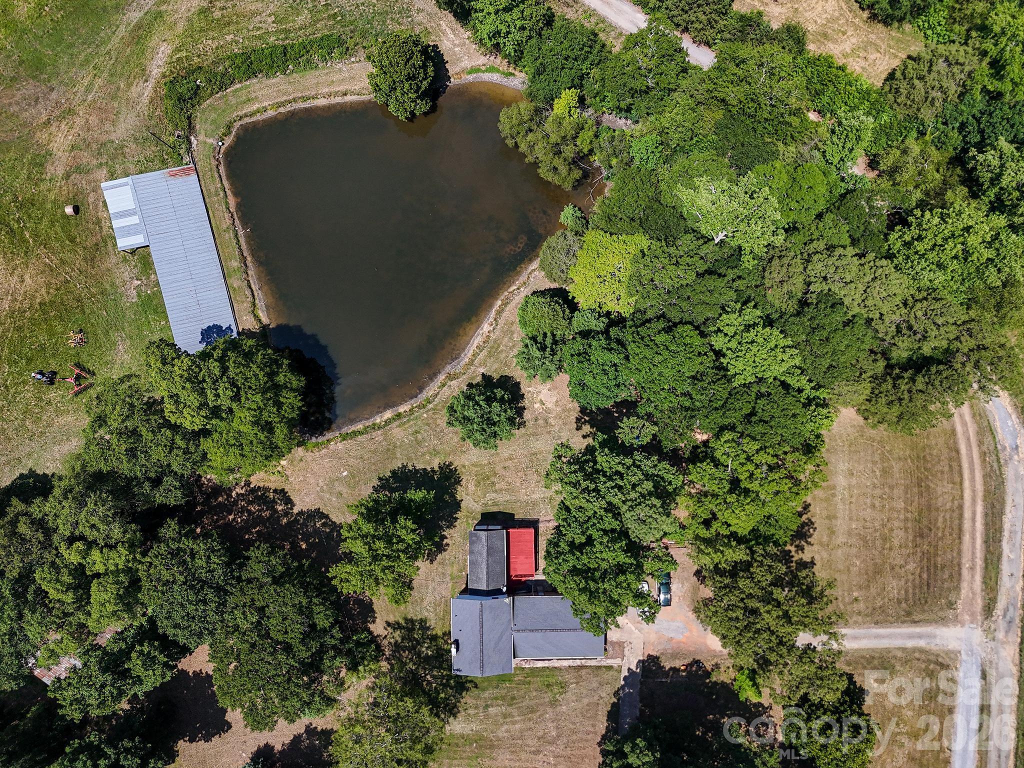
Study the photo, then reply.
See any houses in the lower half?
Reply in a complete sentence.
Yes, there is a house in the lower half.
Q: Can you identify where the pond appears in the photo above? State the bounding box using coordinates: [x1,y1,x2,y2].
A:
[225,85,606,440]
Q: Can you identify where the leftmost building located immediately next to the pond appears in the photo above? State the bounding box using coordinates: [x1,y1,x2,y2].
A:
[101,164,244,359]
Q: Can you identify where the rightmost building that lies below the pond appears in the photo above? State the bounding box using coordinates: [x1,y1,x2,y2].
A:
[450,528,605,677]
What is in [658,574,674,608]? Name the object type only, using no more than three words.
car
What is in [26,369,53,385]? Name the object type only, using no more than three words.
work vehicle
